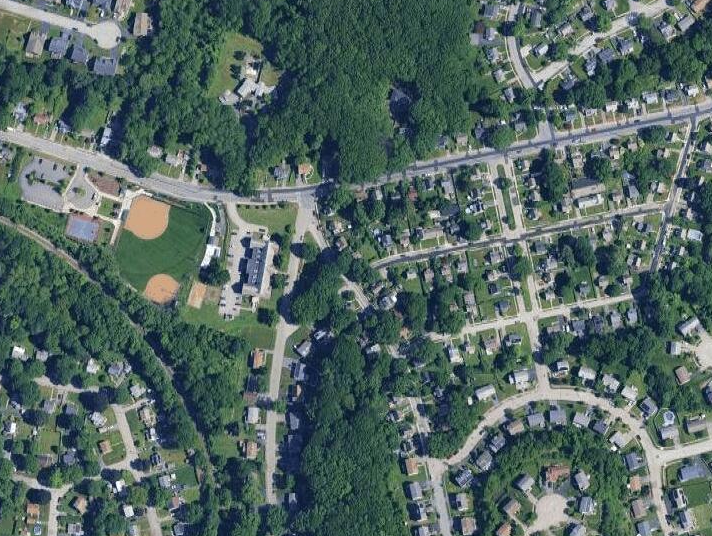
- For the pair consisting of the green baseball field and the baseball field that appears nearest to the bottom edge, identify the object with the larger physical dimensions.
the green baseball field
